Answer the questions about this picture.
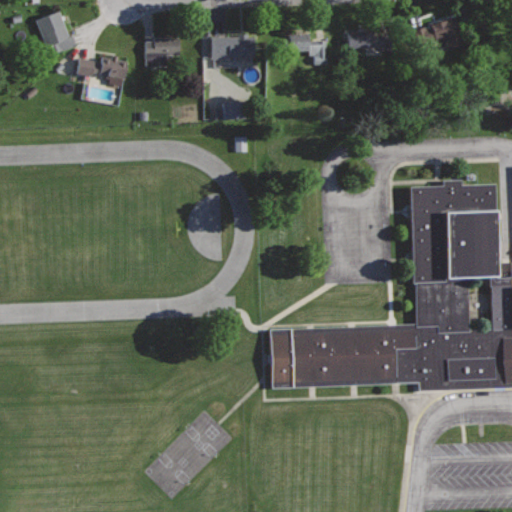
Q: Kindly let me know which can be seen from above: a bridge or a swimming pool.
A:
swimming pool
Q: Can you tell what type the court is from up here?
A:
basketball court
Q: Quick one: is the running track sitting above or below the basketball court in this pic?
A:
above it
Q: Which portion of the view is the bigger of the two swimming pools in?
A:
top left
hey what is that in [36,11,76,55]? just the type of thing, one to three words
house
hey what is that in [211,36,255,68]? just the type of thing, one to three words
house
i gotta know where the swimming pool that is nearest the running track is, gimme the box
[84,76,119,105]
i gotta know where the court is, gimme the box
[145,411,232,499]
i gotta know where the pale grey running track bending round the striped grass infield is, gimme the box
[0,140,254,323]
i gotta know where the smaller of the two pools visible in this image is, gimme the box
[243,68,258,84]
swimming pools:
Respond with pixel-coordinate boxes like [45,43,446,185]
[243,68,258,84]
[84,76,119,105]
